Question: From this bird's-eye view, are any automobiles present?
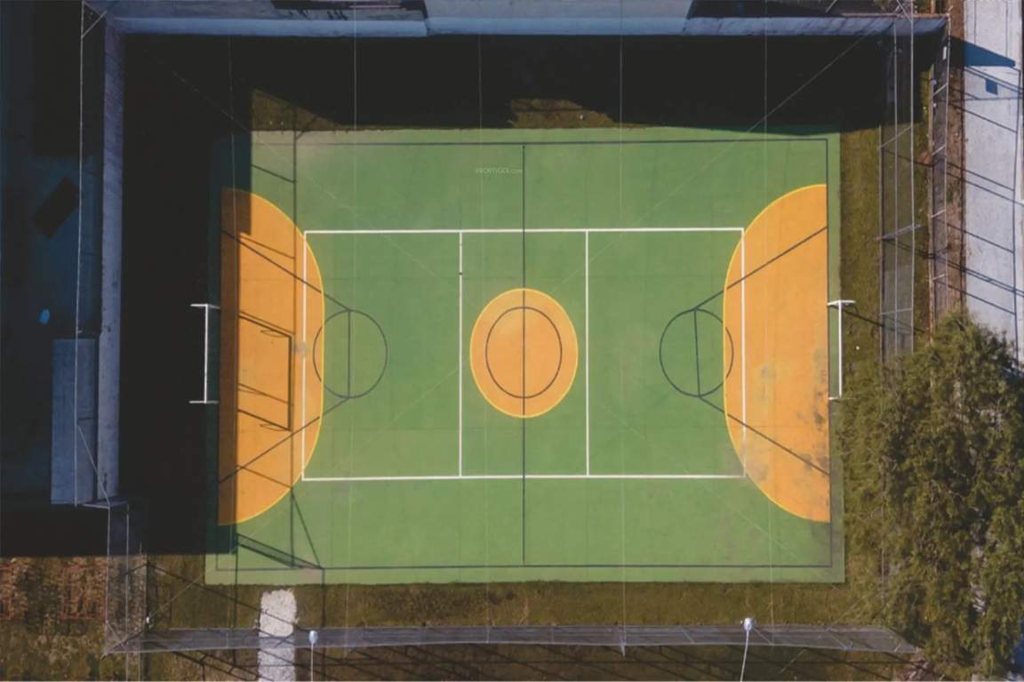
No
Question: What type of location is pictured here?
sports ground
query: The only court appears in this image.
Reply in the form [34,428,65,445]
[206,124,845,584]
